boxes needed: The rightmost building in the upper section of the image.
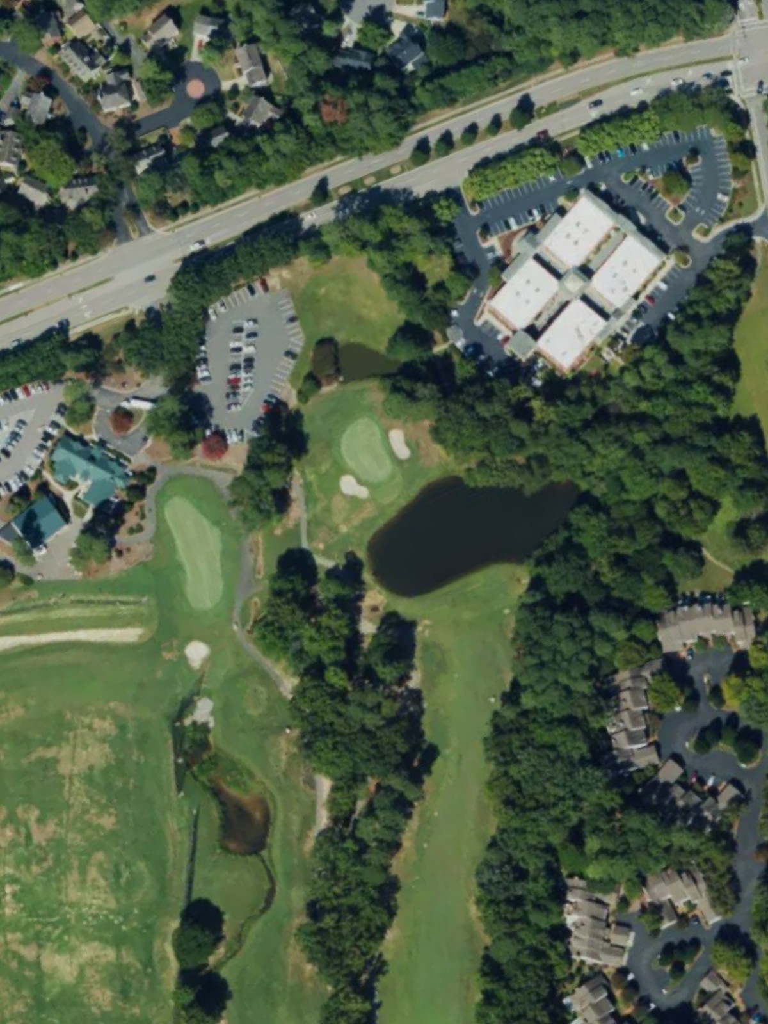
[490,191,667,371]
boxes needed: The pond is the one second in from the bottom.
[367,475,578,597]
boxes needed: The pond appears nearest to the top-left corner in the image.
[335,342,413,383]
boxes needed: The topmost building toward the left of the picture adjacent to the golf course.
[50,434,132,506]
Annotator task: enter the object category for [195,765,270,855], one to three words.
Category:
pond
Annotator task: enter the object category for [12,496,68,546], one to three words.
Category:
building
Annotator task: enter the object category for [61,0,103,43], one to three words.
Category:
house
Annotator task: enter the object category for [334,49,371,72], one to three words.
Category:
house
